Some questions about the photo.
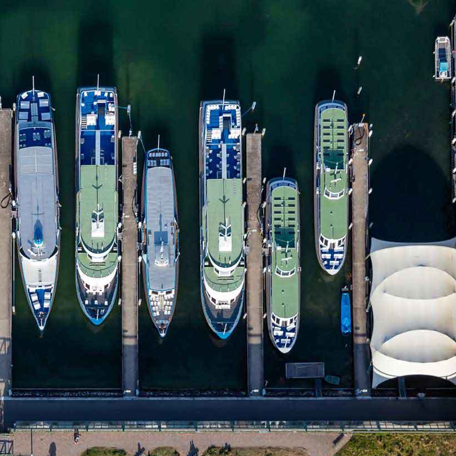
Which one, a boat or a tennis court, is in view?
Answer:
boat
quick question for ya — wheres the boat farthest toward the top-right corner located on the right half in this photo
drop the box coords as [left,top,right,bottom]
[433,37,452,84]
